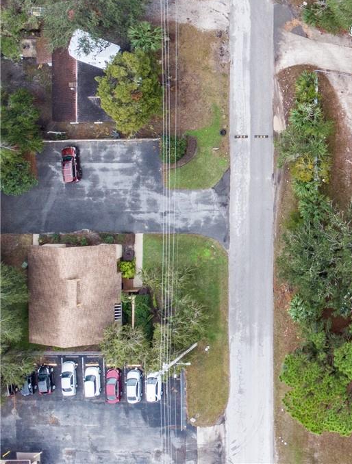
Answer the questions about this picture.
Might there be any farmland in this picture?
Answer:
No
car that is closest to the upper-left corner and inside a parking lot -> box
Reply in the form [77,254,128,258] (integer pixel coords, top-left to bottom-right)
[60,146,82,184]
